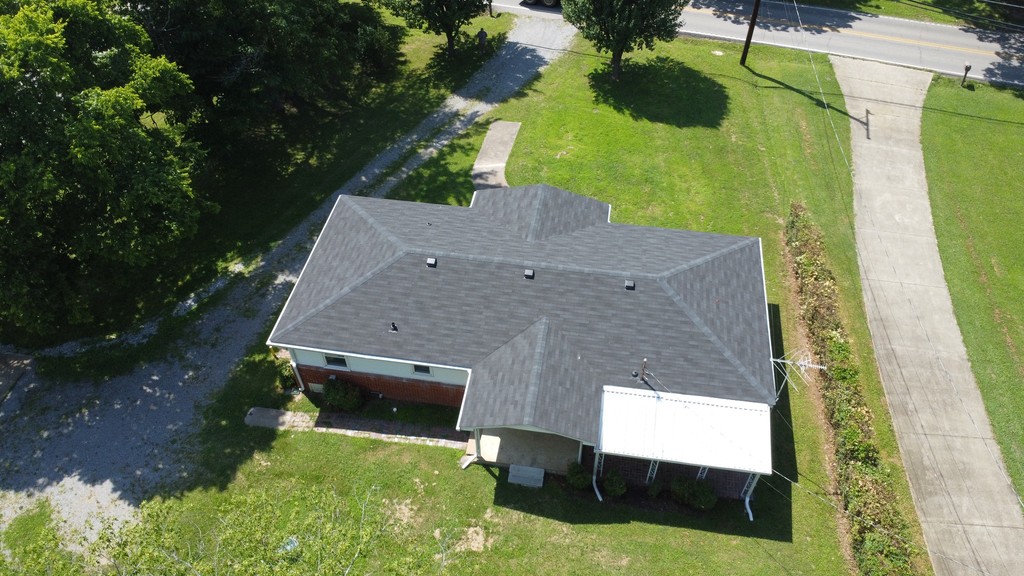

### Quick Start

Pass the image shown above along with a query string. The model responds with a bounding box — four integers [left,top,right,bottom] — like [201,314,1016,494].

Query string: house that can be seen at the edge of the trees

[265,181,778,520]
